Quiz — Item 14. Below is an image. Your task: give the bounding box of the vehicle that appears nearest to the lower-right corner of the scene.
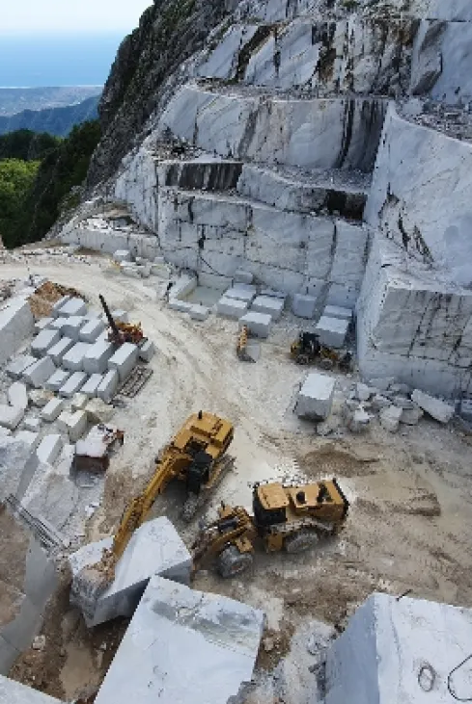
[191,472,355,592]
